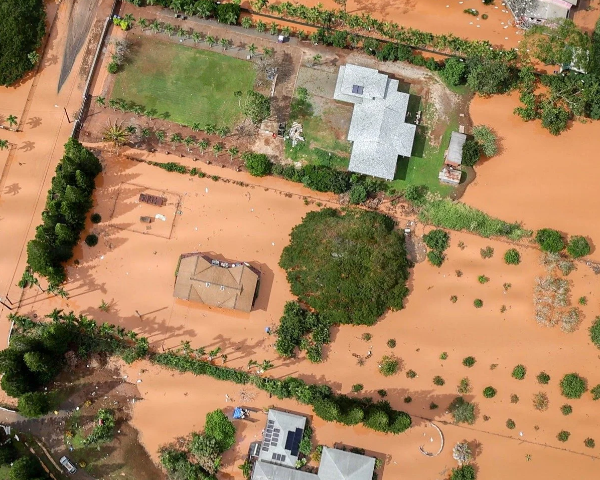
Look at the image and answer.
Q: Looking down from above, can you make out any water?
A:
Yes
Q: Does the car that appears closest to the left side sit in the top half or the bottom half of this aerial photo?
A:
bottom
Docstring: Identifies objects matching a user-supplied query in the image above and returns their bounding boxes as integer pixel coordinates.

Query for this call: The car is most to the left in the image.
[58,454,78,477]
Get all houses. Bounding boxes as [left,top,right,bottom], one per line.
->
[174,252,260,313]
[334,63,416,183]
[525,0,577,22]
[252,409,376,480]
